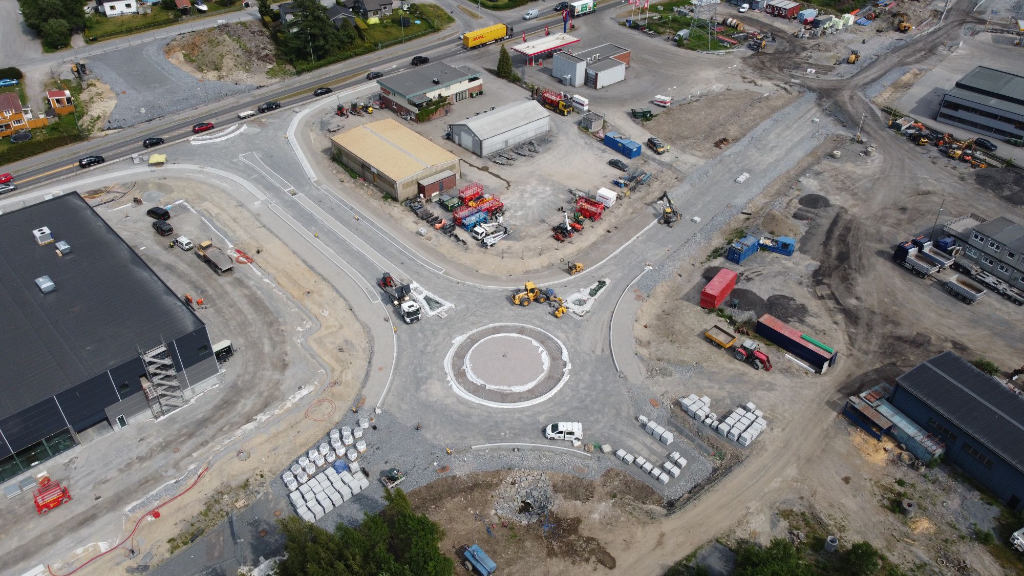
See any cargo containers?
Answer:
Yes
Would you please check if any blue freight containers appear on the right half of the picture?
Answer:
Yes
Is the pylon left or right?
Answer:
right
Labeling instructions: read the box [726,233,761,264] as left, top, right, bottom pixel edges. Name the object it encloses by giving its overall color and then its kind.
blue shipping container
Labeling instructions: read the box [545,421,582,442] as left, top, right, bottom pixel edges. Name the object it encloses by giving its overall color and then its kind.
white vehicle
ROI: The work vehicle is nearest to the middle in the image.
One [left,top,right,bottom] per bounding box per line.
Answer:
[511,284,552,307]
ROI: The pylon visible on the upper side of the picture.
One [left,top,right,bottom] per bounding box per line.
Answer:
[684,0,717,50]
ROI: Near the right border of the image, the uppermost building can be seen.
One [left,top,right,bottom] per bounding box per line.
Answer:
[936,68,1024,145]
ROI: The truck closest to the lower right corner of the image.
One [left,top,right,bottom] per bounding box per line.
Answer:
[997,525,1024,567]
